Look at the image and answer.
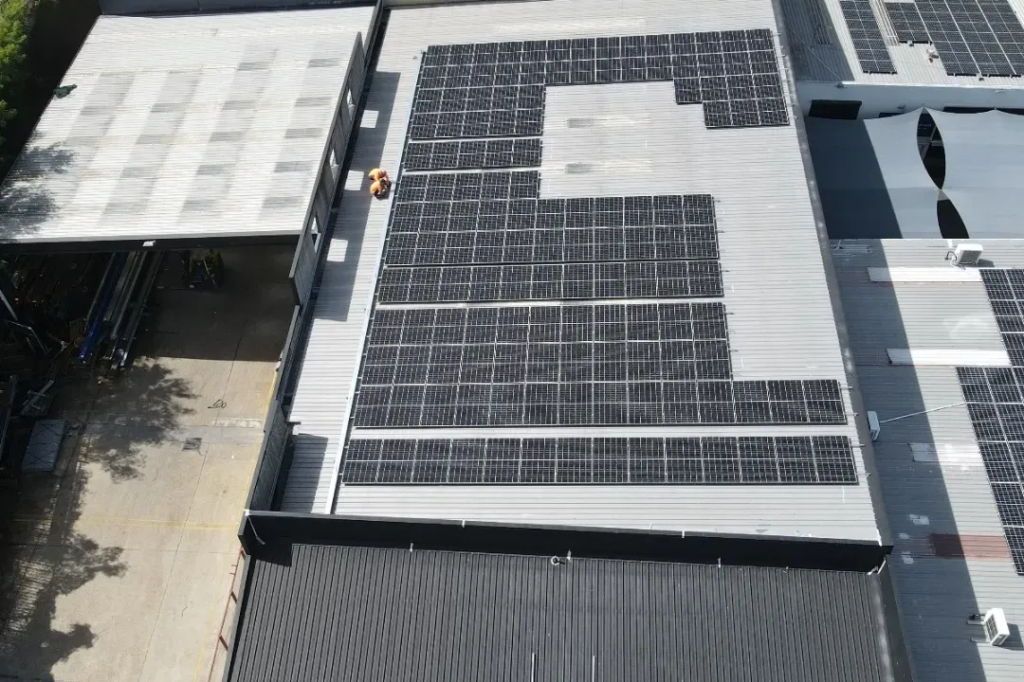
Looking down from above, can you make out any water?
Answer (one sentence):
No, there is no water in the image.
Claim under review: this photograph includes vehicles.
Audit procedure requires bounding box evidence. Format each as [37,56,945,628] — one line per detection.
[180,250,221,308]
